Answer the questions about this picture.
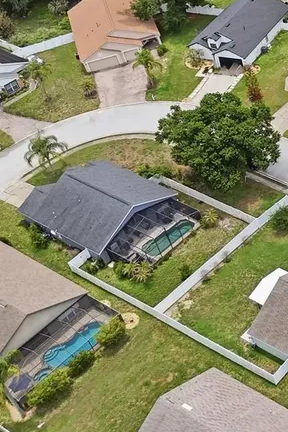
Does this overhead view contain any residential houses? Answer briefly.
Yes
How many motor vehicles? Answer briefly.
0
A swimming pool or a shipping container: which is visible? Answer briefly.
swimming pool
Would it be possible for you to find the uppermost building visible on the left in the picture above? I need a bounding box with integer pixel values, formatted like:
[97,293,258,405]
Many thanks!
[67,0,159,74]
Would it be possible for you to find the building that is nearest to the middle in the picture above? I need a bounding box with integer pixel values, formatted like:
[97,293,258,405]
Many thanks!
[13,160,174,262]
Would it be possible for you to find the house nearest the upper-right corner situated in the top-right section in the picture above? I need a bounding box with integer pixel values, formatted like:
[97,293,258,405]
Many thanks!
[184,0,288,68]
